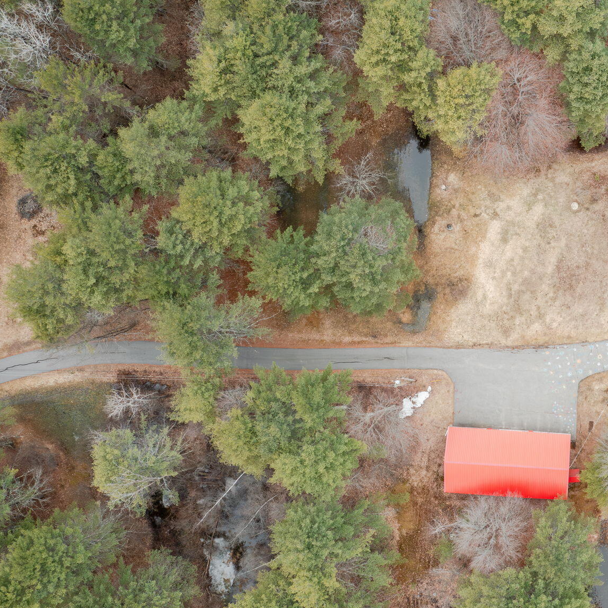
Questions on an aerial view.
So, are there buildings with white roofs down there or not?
No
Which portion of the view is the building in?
bottom right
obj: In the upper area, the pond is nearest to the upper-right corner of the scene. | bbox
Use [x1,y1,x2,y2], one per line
[393,120,435,234]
